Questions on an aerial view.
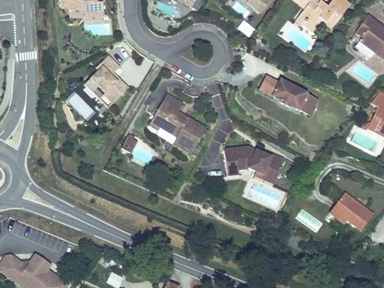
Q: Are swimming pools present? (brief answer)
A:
Yes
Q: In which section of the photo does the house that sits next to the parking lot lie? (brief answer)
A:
bottom left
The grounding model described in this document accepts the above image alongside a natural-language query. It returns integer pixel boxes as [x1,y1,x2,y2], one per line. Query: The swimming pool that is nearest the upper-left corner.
[80,12,112,36]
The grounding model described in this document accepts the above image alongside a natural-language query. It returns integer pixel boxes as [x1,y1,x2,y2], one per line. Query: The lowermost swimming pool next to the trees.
[242,177,286,211]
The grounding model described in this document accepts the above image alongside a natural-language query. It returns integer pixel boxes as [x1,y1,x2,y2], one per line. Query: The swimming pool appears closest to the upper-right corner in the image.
[346,59,377,88]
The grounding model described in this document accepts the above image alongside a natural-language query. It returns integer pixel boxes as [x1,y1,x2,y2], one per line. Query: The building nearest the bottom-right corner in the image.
[332,192,374,232]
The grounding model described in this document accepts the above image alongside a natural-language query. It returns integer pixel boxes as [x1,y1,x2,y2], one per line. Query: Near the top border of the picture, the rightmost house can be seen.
[353,14,384,60]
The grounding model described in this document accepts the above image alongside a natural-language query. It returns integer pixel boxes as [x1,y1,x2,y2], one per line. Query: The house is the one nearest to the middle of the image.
[150,92,208,154]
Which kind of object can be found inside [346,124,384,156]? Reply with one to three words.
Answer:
swimming pool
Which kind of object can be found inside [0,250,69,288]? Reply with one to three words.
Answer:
house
